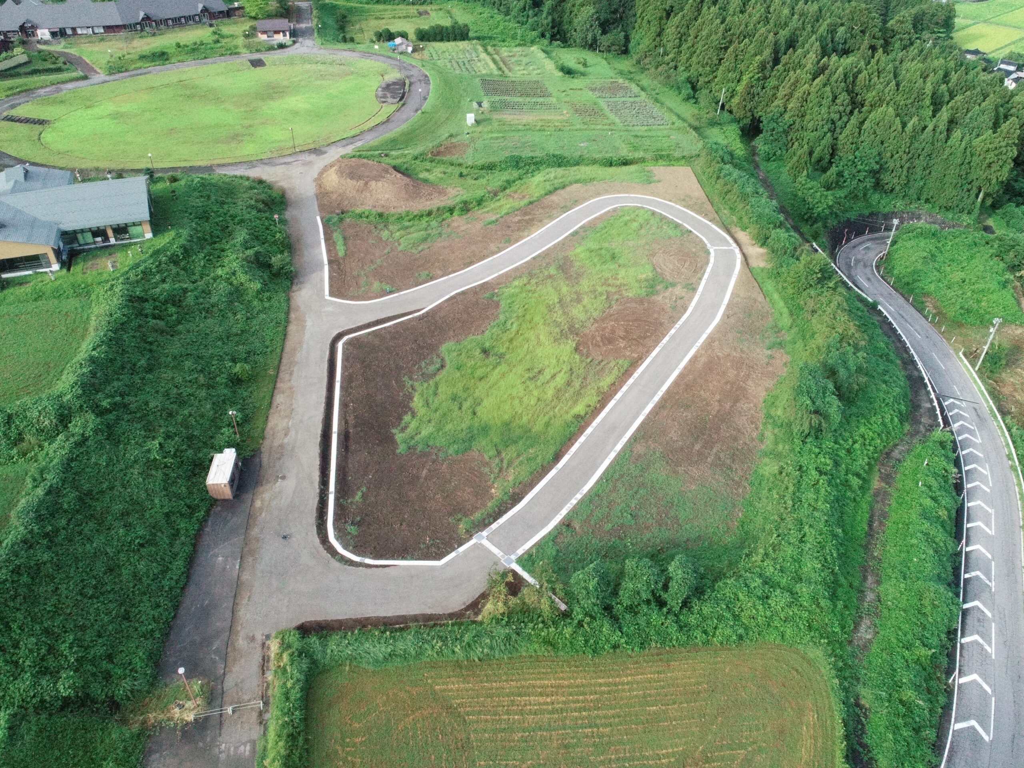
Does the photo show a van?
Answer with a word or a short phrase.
No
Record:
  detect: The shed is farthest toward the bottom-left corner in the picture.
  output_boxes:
[205,447,245,499]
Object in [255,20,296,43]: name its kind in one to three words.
shed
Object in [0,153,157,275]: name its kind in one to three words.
building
